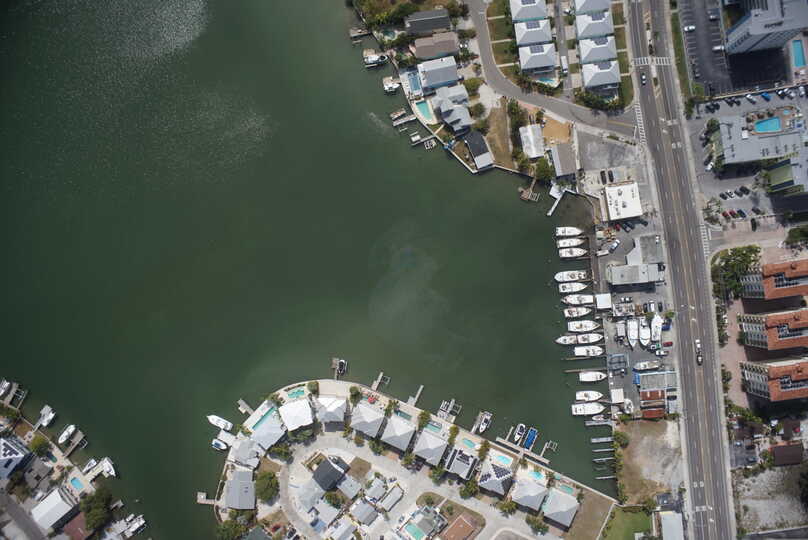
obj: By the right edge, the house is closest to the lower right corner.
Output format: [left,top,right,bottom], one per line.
[771,440,804,465]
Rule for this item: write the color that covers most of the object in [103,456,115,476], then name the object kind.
white boat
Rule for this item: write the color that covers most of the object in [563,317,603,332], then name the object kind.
white boat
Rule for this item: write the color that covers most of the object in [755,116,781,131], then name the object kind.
blue swimming pool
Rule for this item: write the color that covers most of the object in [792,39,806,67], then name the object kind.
blue swimming pool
